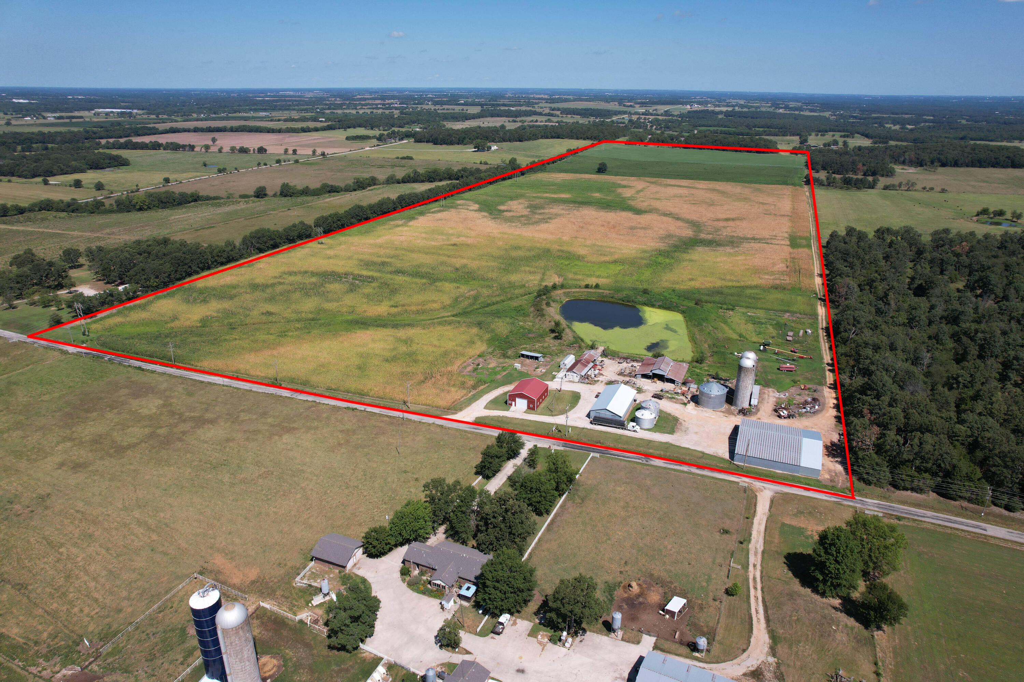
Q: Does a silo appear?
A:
Yes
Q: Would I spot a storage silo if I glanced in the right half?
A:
Yes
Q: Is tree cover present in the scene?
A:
Yes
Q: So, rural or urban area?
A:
rural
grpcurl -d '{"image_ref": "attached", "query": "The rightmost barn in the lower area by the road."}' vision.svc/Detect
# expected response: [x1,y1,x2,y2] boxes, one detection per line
[733,418,823,479]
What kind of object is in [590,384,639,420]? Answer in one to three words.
shed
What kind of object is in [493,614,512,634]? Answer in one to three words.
vehicle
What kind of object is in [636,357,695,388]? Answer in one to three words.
barn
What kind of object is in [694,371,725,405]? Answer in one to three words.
silo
